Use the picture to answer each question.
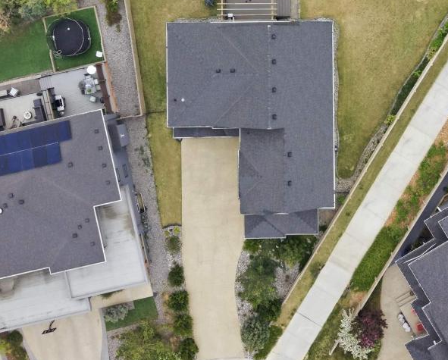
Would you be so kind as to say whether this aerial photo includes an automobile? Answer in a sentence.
No, no automobile can be seen from above.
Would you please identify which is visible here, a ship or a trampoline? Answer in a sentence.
The image shows a trampoline.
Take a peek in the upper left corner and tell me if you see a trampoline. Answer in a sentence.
Yes, a trampoline is visible in the upper left corner.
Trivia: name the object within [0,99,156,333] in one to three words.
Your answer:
house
